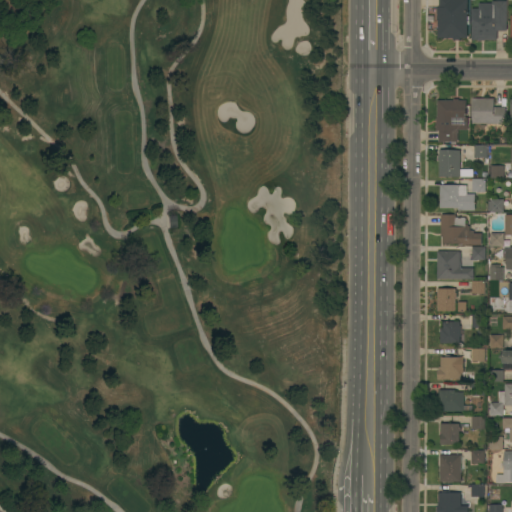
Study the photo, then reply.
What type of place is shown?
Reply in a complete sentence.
The picture captures a golf course.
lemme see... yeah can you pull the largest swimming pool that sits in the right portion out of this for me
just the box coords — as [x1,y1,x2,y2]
[492,214,506,232]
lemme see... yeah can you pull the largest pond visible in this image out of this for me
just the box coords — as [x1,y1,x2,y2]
[178,414,234,492]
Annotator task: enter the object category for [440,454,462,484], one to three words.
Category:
house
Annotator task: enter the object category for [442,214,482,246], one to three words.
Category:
house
